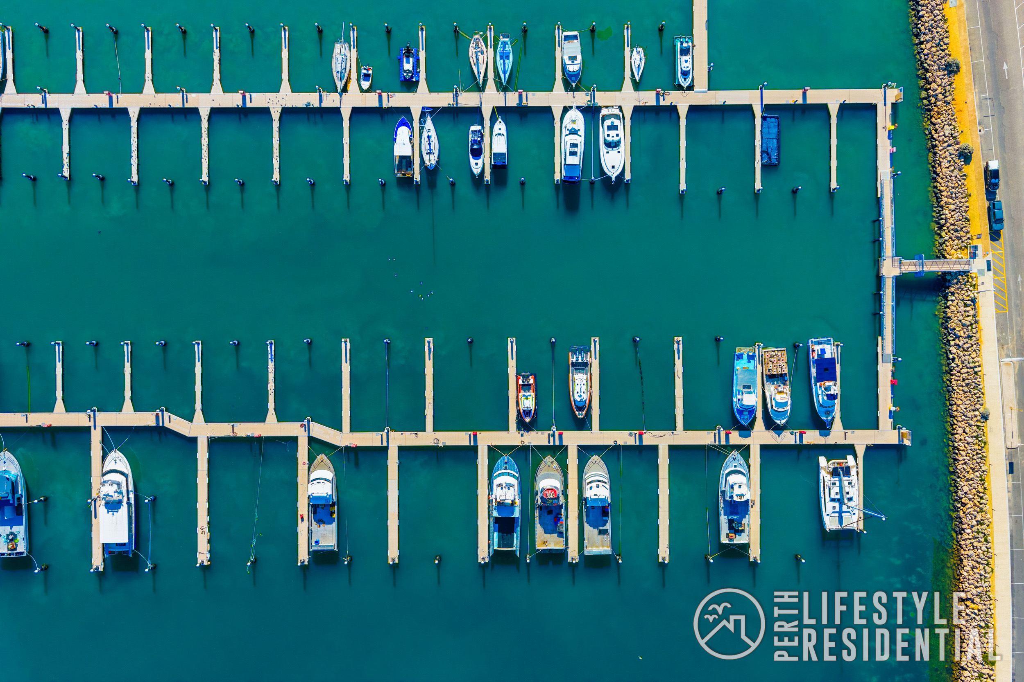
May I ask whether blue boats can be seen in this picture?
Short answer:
Yes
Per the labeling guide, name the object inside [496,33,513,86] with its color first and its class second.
blue boat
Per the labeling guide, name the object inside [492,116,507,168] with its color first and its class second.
white boat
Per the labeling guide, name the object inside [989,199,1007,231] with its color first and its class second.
blue vehicle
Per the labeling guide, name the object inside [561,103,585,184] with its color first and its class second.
white boat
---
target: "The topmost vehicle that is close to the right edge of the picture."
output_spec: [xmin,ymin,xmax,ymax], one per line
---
[986,158,1004,191]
